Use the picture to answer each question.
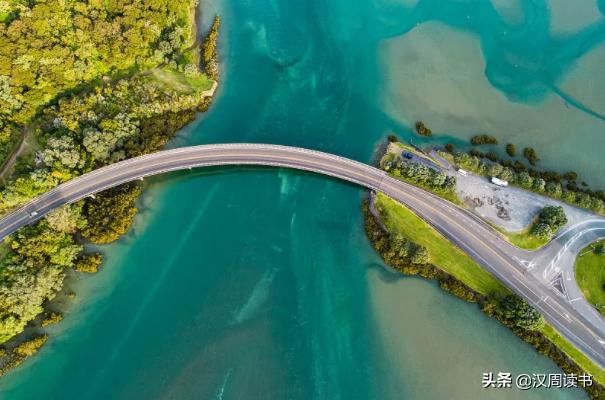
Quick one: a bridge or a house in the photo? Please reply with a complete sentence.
It is a bridge that can be seen here.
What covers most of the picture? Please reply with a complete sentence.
The bulk of the photo consists of water.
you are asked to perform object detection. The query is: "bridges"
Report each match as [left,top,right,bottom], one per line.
[43,142,385,212]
